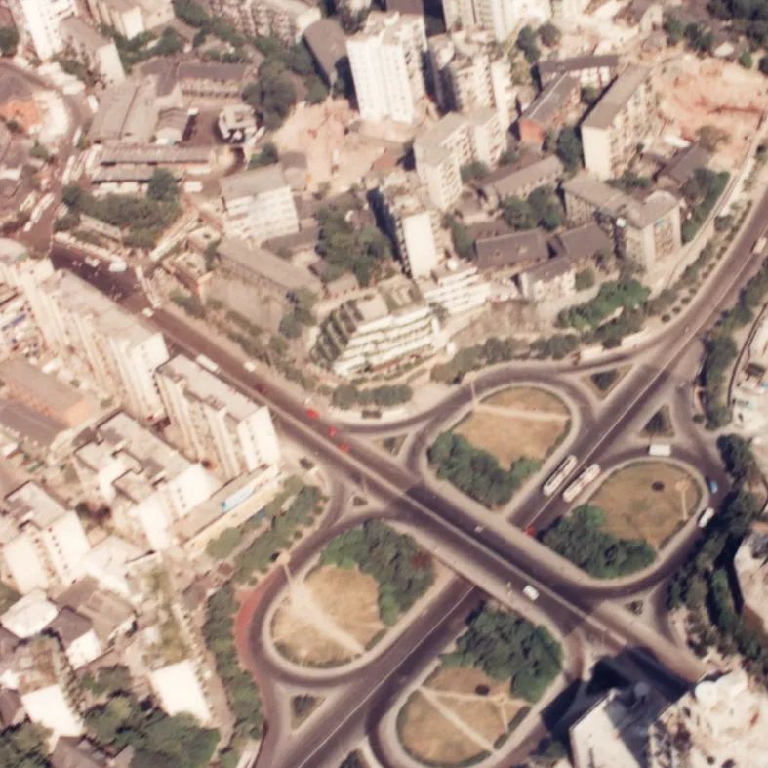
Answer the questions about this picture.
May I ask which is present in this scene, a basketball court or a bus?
bus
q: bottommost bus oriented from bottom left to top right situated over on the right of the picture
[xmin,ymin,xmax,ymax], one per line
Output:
[697,502,718,527]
